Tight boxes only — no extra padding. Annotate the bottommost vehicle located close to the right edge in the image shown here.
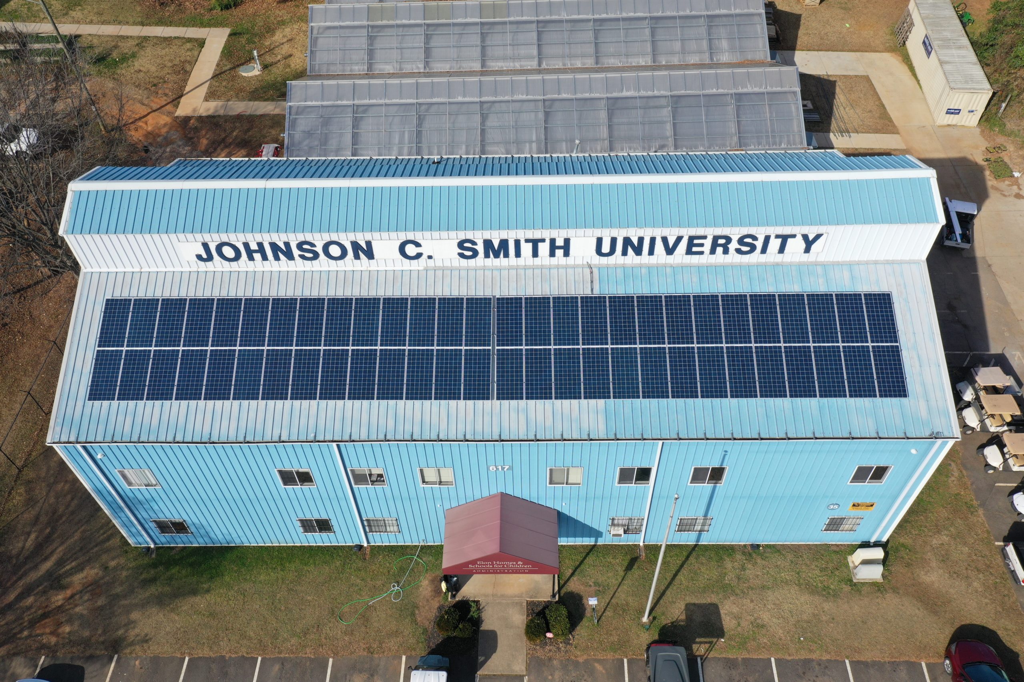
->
[945,633,1021,682]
